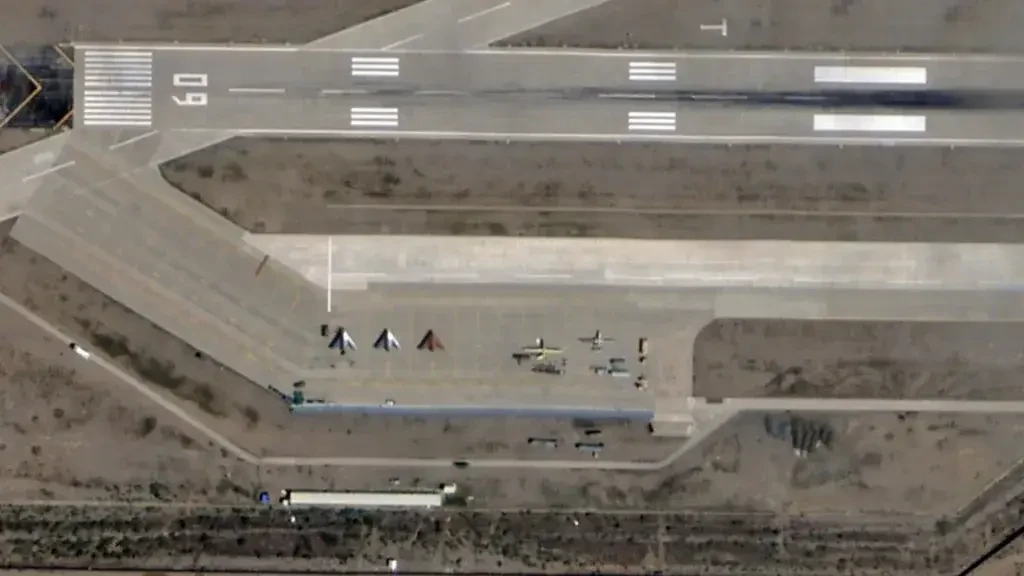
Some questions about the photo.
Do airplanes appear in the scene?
Yes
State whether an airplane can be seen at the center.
Yes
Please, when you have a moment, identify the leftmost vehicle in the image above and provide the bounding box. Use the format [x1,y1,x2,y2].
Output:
[70,344,90,359]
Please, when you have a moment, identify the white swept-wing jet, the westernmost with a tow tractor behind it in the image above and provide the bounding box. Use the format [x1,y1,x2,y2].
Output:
[332,328,356,351]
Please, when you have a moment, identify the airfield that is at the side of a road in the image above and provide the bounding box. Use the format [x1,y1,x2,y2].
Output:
[0,0,1024,412]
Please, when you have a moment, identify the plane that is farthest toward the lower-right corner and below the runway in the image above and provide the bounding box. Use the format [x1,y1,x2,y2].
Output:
[580,333,616,352]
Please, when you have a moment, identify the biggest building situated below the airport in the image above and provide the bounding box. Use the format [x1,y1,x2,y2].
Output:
[289,493,441,507]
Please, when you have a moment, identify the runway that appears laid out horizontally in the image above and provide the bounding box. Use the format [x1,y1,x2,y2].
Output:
[72,43,1024,145]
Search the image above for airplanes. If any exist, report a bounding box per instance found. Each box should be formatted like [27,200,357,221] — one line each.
[377,328,400,352]
[332,328,356,351]
[421,329,444,353]
[580,333,616,352]
[512,355,529,365]
[523,339,562,361]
